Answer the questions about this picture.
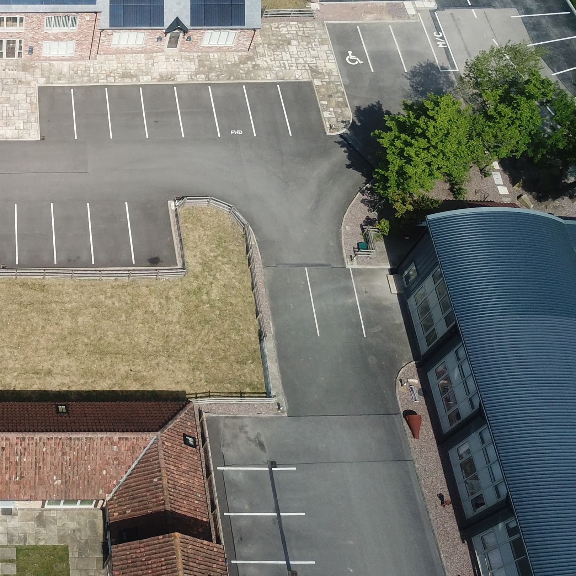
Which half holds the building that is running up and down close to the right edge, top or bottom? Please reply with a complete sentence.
The building that is running up and down close to the right edge is in the bottom half of the image.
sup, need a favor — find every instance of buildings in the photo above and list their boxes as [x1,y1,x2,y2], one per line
[0,0,260,61]
[0,400,229,576]
[407,207,576,576]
